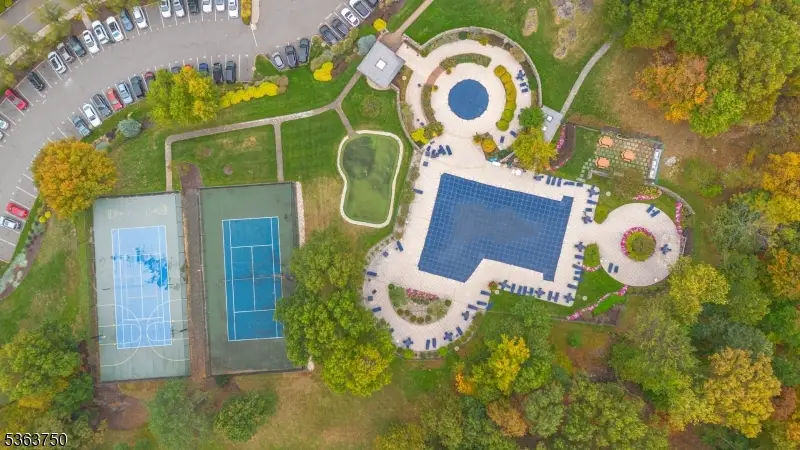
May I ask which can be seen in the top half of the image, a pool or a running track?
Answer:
pool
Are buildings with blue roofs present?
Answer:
No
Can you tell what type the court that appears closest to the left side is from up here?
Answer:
tennis court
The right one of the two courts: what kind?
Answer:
tennis court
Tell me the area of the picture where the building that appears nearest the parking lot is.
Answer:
top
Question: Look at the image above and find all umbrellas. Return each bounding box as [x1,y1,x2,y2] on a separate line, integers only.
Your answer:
[623,149,635,162]
[601,135,613,148]
[597,156,609,169]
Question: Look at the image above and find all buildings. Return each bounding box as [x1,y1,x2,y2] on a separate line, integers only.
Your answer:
[527,105,561,141]
[357,39,405,91]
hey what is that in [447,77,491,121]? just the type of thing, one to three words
swimming pool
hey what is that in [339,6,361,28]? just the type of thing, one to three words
car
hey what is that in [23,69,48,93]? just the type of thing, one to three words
car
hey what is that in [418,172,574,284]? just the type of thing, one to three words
swimming pool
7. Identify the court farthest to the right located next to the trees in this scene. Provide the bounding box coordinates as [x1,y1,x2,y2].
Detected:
[204,182,302,375]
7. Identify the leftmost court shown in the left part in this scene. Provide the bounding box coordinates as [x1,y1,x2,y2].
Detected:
[94,193,189,382]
